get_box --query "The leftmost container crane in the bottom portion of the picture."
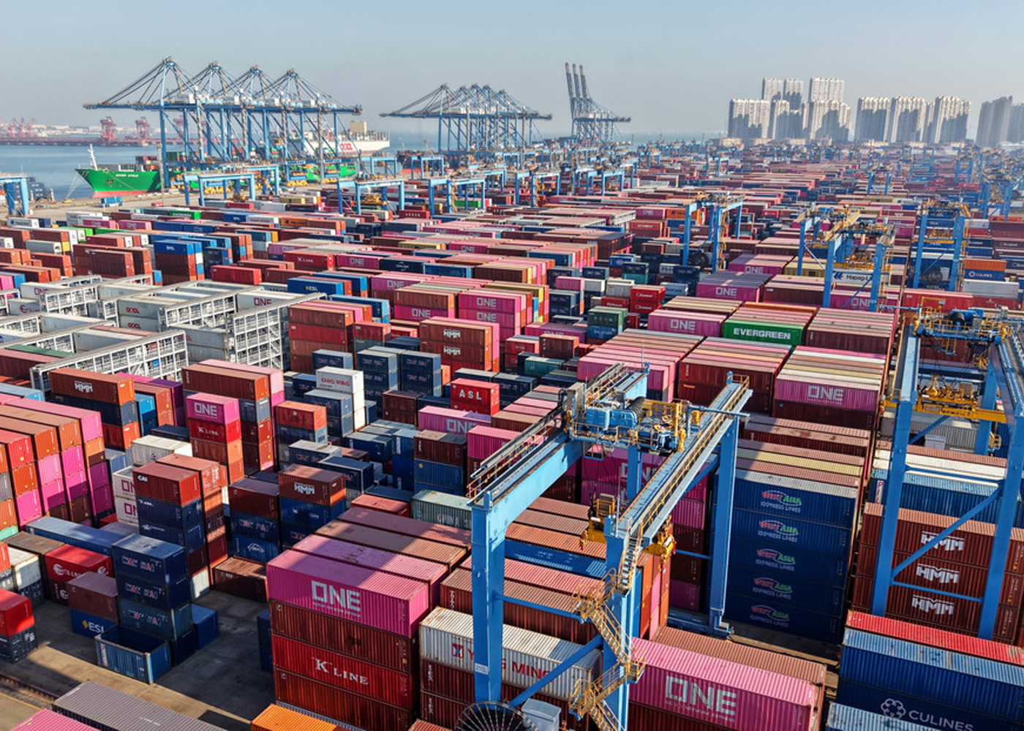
[450,334,769,731]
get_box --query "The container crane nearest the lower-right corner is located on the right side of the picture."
[869,298,1024,633]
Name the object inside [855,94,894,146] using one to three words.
building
